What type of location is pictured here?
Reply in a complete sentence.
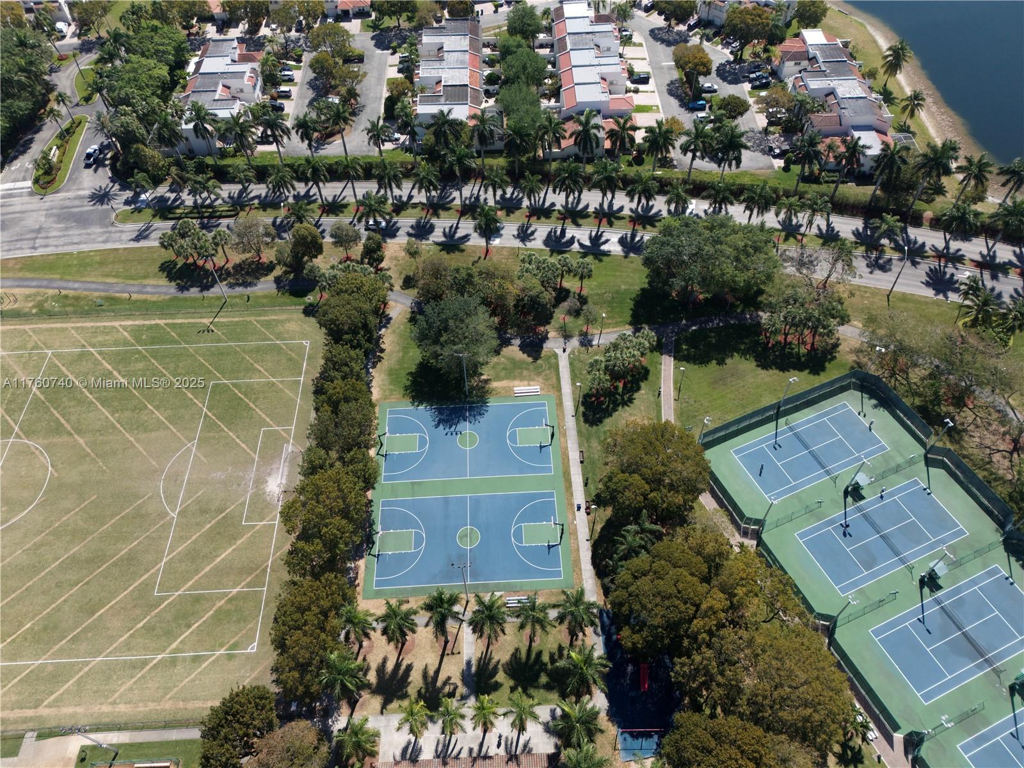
This image shows a sports ground.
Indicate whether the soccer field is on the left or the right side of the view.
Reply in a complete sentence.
The soccer field appears in the left half of the scene.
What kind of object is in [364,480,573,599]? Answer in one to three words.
basketball court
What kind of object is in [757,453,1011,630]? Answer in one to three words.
tennis court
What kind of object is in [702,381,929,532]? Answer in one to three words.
tennis court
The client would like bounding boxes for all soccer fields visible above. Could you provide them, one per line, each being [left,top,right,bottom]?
[0,305,318,731]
